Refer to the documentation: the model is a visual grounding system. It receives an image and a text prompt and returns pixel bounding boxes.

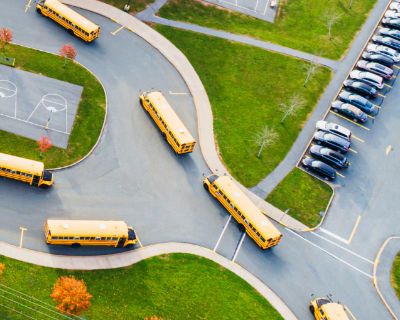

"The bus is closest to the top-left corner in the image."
[33,0,100,48]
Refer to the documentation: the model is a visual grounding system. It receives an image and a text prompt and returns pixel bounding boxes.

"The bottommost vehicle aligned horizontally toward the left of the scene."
[42,222,142,249]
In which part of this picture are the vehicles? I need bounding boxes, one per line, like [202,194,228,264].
[358,60,393,80]
[315,120,352,141]
[301,158,340,182]
[339,92,375,113]
[371,34,400,54]
[387,11,400,19]
[42,222,142,249]
[342,79,379,99]
[379,27,400,40]
[384,18,400,31]
[349,68,385,89]
[33,0,100,48]
[361,51,395,69]
[305,287,347,320]
[313,132,352,155]
[309,146,348,169]
[0,155,58,191]
[139,89,195,158]
[331,101,367,122]
[201,172,280,253]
